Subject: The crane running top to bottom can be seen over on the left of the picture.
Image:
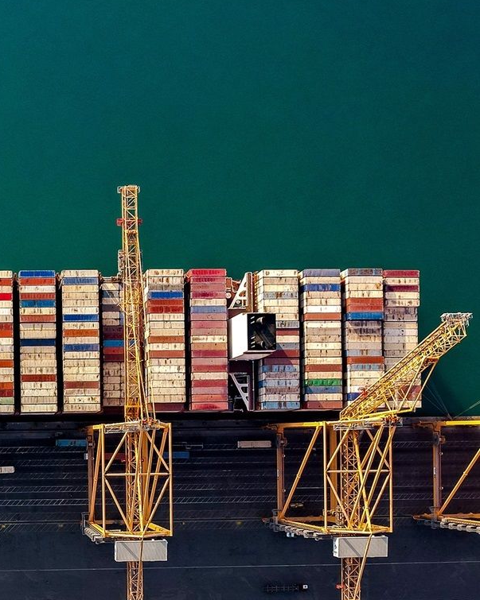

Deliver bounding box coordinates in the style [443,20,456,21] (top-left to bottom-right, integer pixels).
[66,185,174,600]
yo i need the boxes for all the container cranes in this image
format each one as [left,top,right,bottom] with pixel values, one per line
[250,306,473,600]
[406,418,480,531]
[66,185,174,600]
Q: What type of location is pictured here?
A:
port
